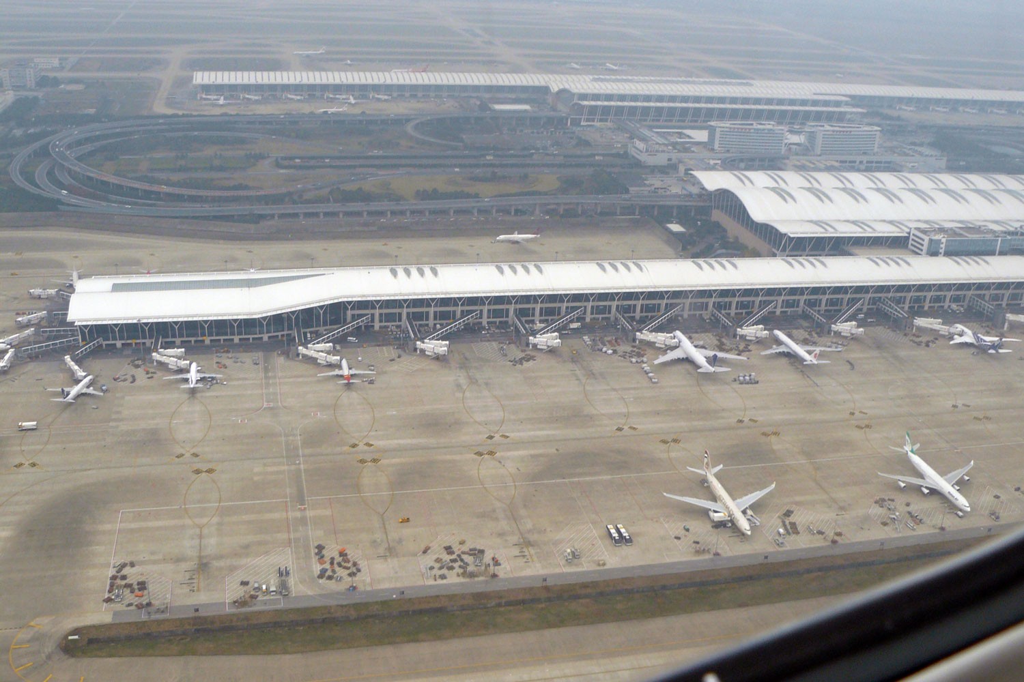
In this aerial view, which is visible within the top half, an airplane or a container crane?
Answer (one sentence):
There is an airplane within the top half.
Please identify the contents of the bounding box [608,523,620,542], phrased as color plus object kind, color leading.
white vehicle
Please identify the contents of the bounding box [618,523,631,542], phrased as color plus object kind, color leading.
white vehicle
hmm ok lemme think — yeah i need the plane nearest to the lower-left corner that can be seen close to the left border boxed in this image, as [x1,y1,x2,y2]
[39,376,106,405]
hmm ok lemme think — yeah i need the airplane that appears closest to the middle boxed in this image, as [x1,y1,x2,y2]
[495,227,540,243]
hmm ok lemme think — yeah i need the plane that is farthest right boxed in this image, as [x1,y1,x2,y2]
[943,324,1024,354]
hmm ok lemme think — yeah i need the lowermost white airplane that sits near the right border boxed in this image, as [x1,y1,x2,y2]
[868,427,976,510]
